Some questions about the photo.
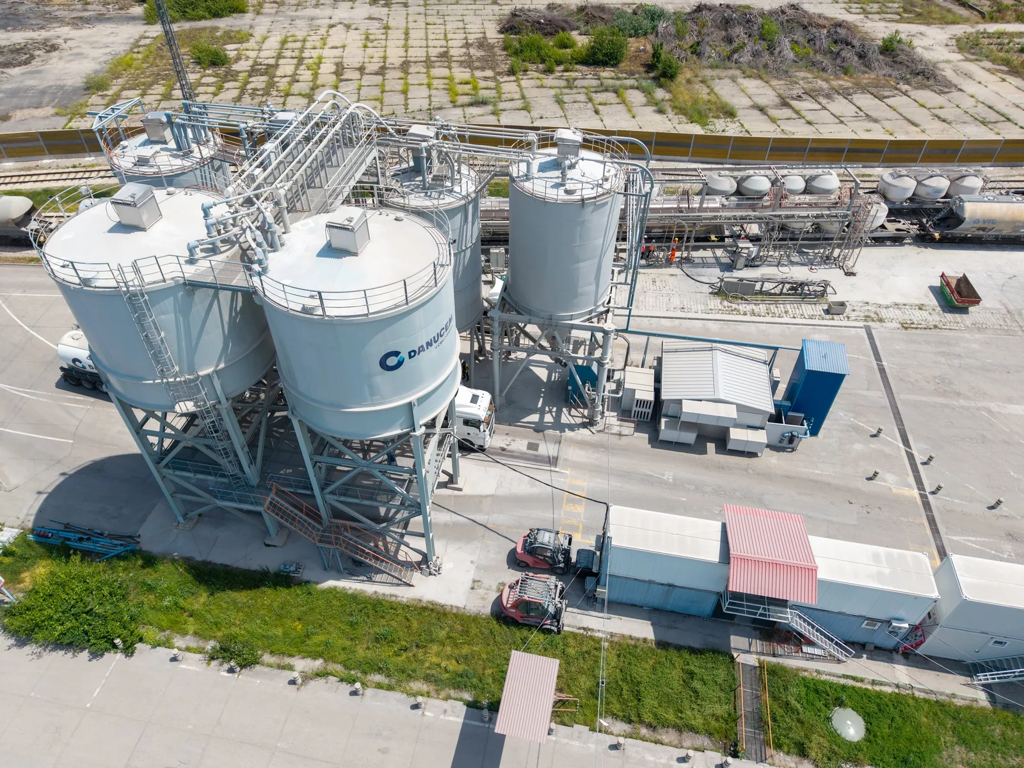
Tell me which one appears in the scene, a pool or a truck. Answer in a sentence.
The image shows a truck.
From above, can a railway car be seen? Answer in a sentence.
Yes, there is a railway car in the image.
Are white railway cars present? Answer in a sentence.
Yes, the photo shows a white railway car.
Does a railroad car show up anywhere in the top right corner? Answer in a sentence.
Yes, a railroad car appears in the top right corner.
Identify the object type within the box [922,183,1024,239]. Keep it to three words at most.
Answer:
rail car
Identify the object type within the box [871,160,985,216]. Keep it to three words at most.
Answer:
rail car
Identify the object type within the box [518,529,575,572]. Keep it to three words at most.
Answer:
work vehicle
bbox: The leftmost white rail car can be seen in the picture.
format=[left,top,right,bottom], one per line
[0,183,64,237]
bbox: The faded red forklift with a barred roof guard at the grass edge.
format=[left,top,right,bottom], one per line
[503,576,585,631]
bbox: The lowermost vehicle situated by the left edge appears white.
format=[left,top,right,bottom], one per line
[51,316,99,383]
